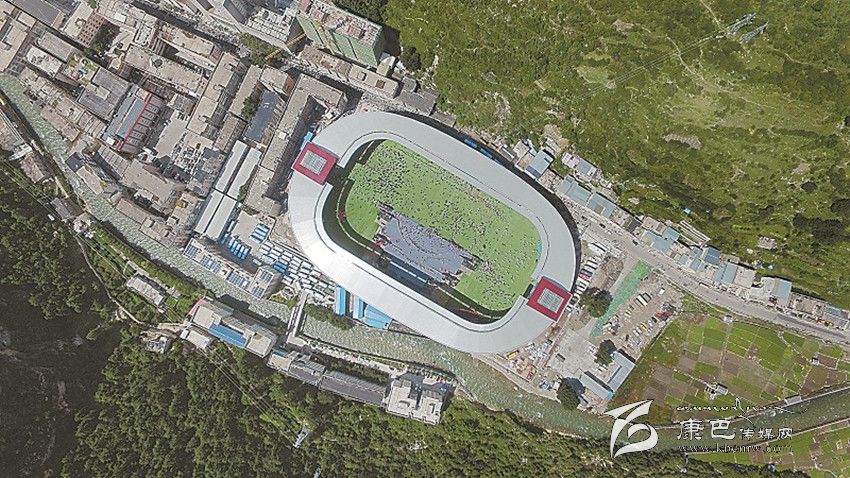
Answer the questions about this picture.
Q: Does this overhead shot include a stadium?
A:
Yes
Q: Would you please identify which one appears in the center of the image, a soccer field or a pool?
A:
soccer field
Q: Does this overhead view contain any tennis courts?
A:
No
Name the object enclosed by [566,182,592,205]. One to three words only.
house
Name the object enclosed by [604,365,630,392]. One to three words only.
shed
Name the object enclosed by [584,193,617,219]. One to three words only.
house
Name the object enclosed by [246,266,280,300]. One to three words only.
building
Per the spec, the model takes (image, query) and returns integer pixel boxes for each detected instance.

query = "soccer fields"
[340,148,537,309]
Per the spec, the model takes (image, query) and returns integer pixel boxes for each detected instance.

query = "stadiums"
[285,113,578,356]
